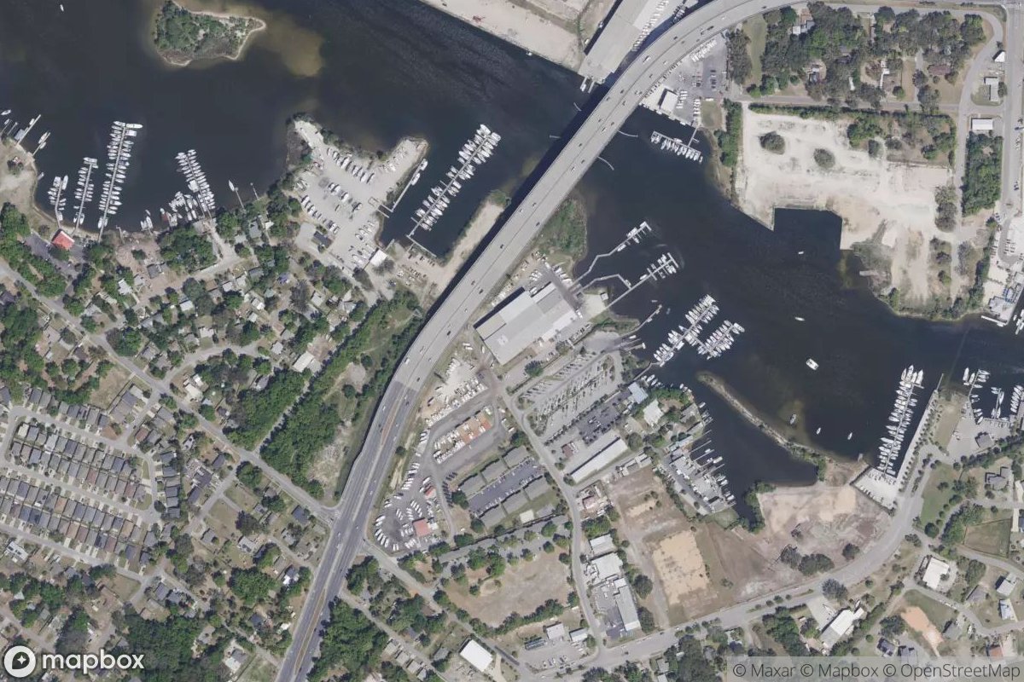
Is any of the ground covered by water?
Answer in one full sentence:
Yes, water can be seen from above here.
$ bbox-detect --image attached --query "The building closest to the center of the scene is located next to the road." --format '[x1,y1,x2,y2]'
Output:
[476,283,576,365]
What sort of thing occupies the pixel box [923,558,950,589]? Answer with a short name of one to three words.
house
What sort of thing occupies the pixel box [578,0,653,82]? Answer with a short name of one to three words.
shed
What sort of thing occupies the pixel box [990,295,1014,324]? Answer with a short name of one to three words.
building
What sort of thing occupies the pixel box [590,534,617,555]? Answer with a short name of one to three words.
building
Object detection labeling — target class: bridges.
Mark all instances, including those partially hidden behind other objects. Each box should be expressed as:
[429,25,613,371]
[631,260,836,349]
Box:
[394,0,806,388]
